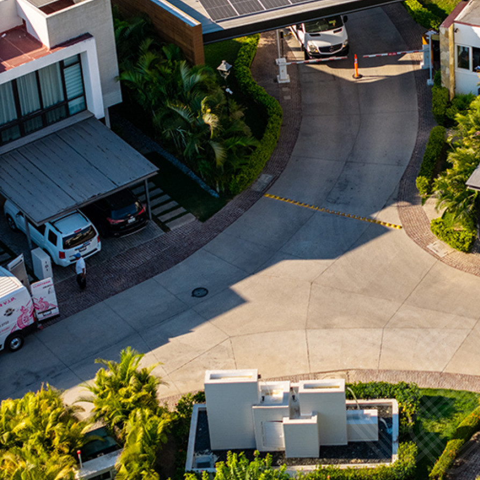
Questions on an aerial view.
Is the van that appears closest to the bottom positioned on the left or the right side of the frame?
left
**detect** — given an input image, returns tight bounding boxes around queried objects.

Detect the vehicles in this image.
[306,17,353,58]
[78,188,147,237]
[0,268,56,364]
[2,202,101,267]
